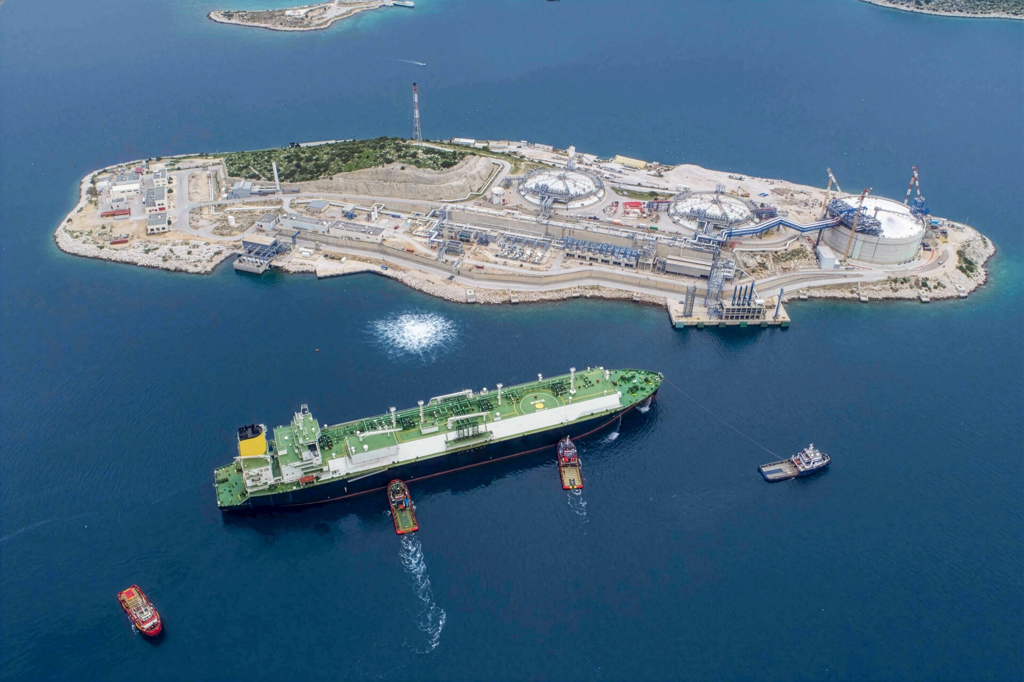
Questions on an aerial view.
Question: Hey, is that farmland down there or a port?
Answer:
port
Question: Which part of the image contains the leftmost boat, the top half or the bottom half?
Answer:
bottom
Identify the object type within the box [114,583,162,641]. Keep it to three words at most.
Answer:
boat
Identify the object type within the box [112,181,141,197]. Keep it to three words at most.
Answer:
building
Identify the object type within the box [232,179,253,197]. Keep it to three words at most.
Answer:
shed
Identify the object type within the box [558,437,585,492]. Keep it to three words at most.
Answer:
boat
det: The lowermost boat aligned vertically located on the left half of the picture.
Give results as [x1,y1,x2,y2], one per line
[387,479,421,538]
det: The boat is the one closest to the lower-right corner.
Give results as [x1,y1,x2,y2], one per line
[756,443,831,482]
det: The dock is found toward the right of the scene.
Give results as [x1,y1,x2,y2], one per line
[666,294,791,326]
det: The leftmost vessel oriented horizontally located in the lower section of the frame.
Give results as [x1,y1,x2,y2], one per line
[211,362,664,511]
